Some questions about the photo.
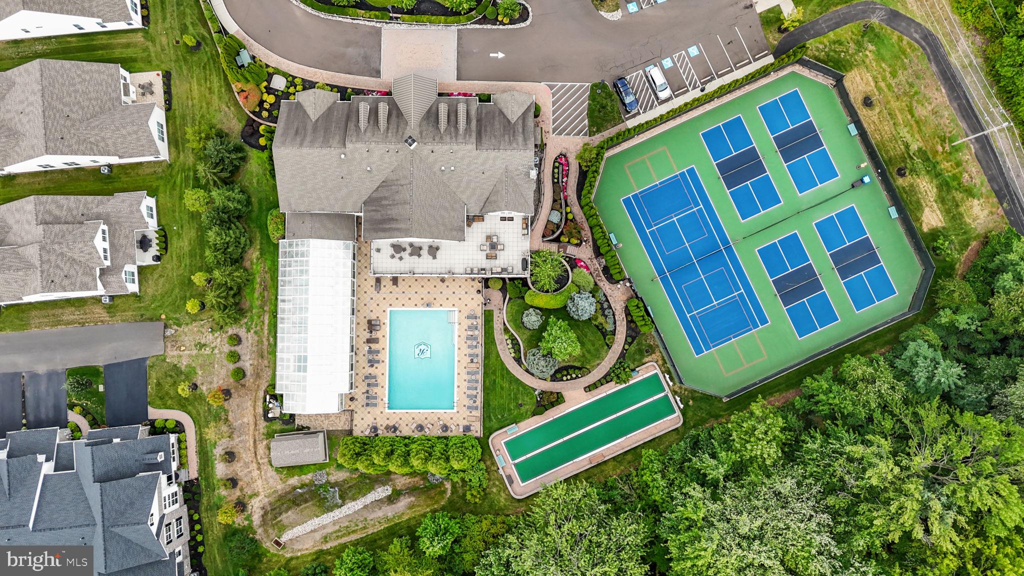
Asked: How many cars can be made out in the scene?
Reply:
2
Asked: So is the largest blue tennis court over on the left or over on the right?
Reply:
right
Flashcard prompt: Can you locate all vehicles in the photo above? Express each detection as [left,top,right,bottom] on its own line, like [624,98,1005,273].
[615,78,638,113]
[647,65,670,100]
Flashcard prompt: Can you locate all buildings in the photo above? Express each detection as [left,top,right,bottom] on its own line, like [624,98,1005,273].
[0,0,144,36]
[0,425,195,576]
[0,191,159,304]
[0,59,170,174]
[272,73,541,245]
[271,429,330,467]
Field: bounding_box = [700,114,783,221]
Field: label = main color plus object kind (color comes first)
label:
blue sports court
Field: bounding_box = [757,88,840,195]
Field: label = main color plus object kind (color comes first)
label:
blue sports court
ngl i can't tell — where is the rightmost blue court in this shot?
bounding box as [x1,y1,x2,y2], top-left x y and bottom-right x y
[813,204,898,313]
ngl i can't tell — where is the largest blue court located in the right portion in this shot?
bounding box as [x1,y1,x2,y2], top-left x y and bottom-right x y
[621,145,771,378]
